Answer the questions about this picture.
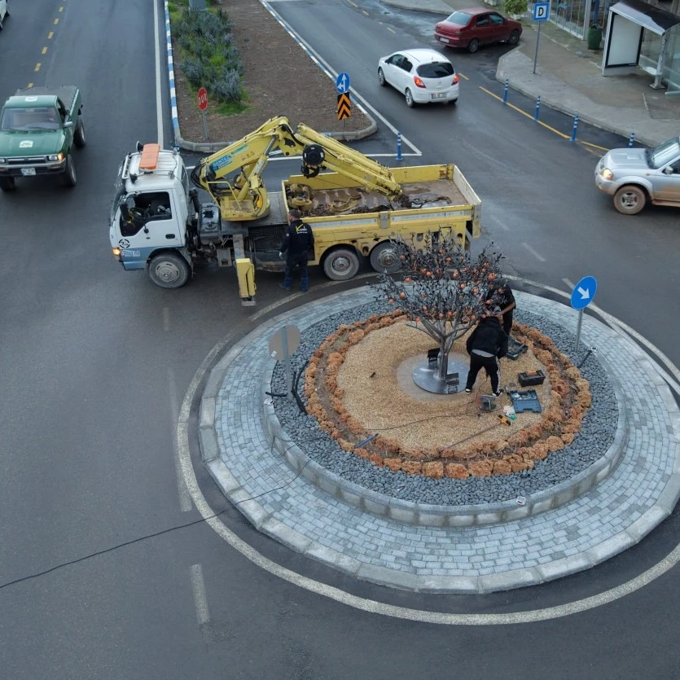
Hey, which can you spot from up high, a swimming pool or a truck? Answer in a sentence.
This aerial view contains a truck.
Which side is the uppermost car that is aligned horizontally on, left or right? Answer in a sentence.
You can find the uppermost car that is aligned horizontally on the right side of the picture.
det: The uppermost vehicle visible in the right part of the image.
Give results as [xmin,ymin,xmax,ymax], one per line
[430,5,529,54]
